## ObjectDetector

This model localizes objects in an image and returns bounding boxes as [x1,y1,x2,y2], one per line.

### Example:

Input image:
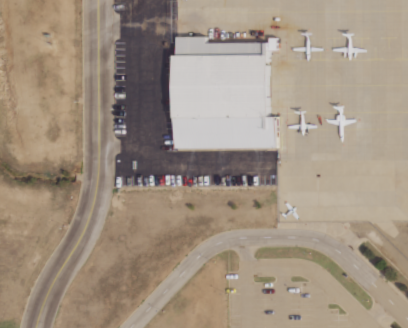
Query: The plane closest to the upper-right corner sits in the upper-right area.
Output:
[331,32,367,60]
